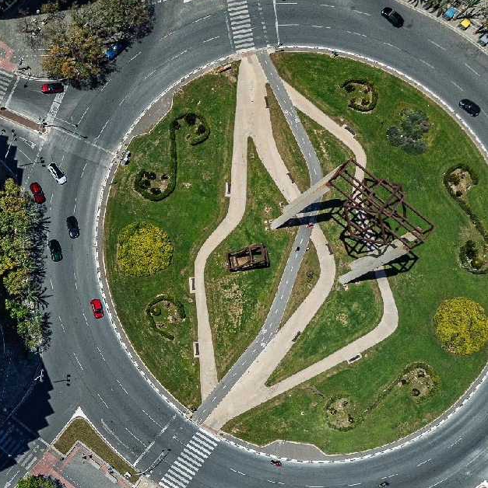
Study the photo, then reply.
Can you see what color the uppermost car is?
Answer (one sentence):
The color of the uppermost car is black.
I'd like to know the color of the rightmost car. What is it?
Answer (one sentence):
In this view, the rightmost car is black.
